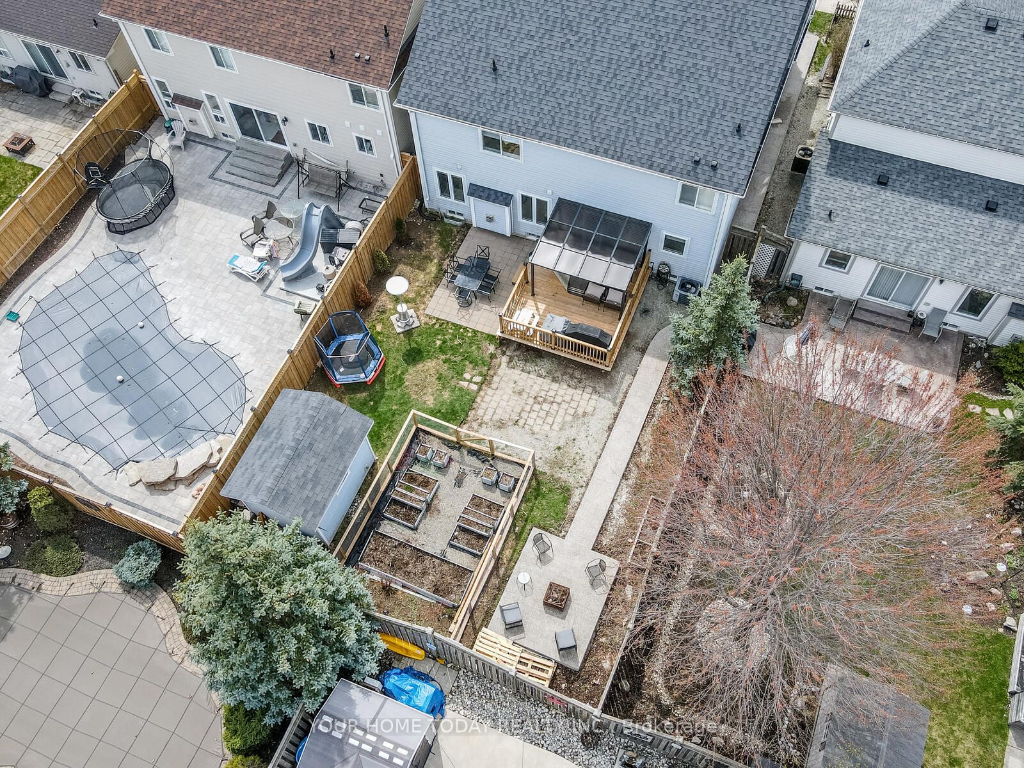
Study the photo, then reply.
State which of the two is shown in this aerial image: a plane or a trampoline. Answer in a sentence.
The one in the frame is a trampoline.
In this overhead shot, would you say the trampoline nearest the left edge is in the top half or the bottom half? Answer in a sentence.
Seen from above, the trampoline nearest the left edge lies in the top half of the view.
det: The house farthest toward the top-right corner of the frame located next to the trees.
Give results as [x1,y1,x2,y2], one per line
[781,0,1024,355]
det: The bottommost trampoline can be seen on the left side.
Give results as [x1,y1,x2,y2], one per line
[312,314,383,388]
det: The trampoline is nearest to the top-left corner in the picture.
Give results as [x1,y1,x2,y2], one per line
[74,128,181,232]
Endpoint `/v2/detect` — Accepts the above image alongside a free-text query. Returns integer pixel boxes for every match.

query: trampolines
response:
[74,128,181,232]
[312,314,383,388]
